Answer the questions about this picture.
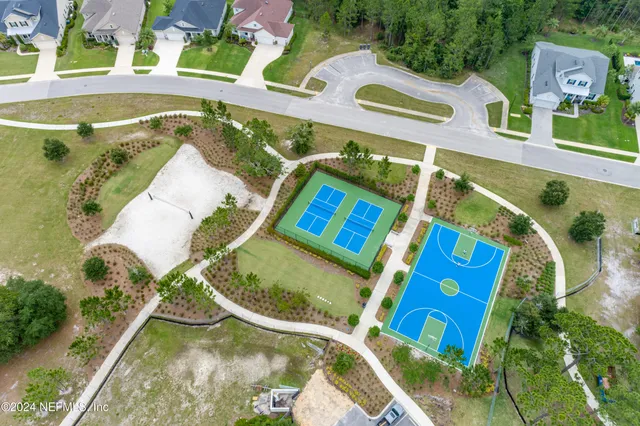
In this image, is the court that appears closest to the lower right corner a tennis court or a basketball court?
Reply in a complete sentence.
It looks like the court that appears closest to the lower right corner is a basketball court.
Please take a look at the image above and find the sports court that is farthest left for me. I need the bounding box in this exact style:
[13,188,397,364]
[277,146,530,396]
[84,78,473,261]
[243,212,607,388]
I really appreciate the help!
[79,143,265,282]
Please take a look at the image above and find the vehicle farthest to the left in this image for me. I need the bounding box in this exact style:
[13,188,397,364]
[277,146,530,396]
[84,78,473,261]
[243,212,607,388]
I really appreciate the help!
[375,402,406,426]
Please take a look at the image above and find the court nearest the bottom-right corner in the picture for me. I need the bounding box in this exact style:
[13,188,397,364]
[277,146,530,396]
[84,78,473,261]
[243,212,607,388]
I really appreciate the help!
[381,222,511,373]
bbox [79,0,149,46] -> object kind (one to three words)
house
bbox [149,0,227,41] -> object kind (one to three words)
house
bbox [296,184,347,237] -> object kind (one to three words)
sports court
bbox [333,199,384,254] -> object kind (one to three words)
sports court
